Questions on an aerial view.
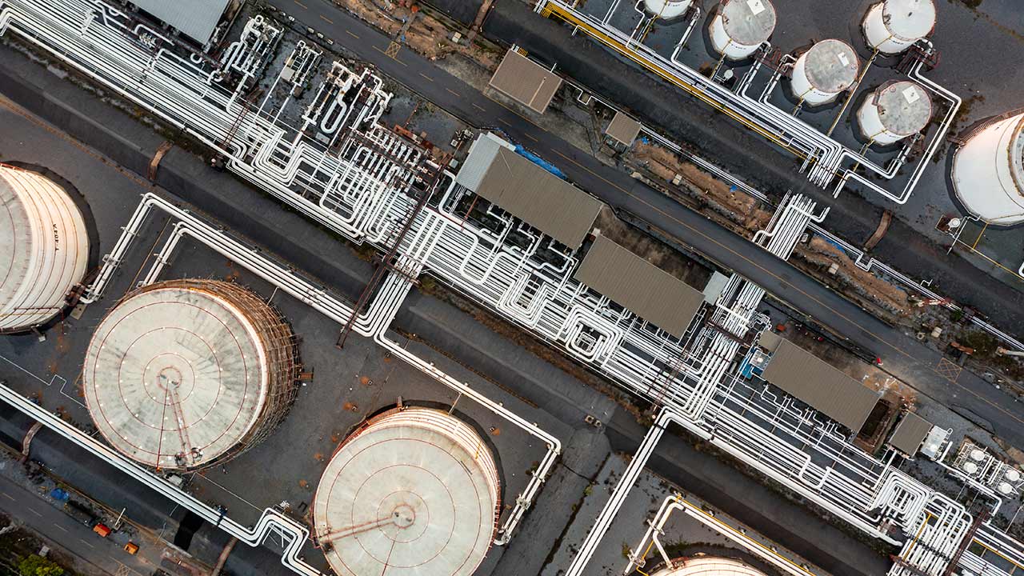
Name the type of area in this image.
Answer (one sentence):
This image shows an industrial area.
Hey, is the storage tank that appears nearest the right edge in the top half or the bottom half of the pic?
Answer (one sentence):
The storage tank that appears nearest the right edge is in the top half of the image.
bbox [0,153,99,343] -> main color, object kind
white storage tank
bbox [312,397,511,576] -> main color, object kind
white storage tank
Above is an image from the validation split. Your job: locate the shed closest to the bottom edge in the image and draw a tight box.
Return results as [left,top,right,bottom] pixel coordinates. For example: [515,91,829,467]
[883,411,933,457]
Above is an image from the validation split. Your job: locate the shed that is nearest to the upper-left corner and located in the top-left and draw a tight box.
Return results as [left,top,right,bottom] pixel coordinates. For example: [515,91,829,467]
[116,0,236,50]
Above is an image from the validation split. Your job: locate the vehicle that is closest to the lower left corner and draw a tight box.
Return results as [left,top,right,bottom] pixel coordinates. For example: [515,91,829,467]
[64,502,116,539]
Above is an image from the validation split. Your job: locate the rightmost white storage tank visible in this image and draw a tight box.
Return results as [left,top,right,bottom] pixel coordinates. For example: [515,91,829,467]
[945,90,1024,231]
